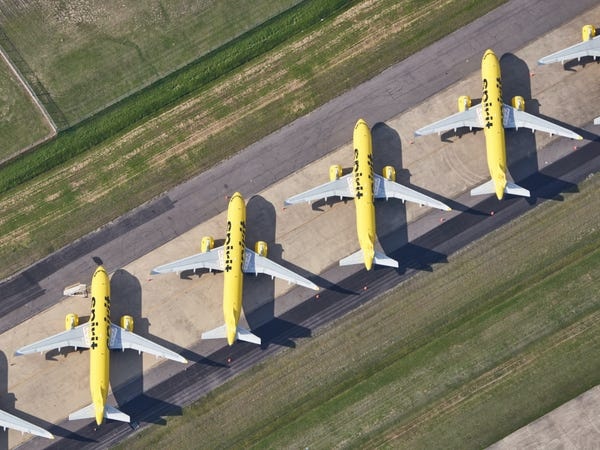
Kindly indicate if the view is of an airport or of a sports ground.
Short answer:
airport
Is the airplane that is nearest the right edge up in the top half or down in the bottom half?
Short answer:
top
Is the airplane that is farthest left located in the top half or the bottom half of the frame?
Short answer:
bottom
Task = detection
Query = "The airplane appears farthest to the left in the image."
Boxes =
[0,414,53,441]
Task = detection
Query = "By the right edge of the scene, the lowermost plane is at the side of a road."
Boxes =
[414,50,582,202]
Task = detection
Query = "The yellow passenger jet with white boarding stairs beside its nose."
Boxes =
[15,267,188,425]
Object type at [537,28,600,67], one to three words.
airplane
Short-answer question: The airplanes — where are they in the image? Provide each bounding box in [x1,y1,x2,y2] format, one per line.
[149,192,320,347]
[414,50,582,202]
[282,119,452,273]
[0,414,53,441]
[537,28,600,67]
[15,267,188,425]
